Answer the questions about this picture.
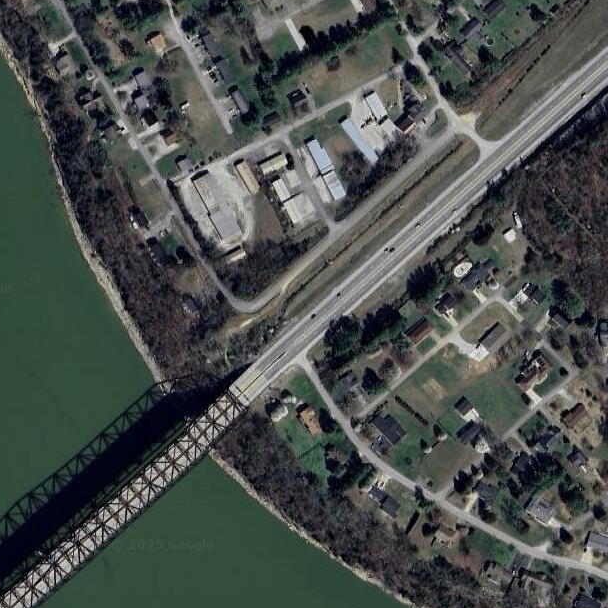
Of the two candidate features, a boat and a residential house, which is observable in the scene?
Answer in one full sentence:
Looking from above, you can make out a residential house.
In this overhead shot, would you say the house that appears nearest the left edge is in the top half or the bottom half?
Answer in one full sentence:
The top half of the photo is where the house that appears nearest the left edge is.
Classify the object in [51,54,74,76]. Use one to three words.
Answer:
house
